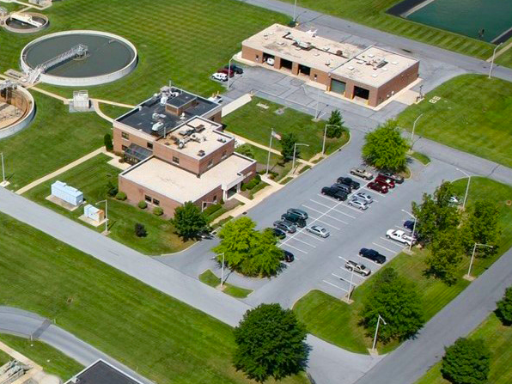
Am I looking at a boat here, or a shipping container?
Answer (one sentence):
Looking from above, you can make out a shipping container.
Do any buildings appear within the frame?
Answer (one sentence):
Yes, a building appears in the view.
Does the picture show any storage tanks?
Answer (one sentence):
Yes, the image includes a storage tank.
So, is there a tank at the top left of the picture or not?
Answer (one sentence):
Yes, a tank appears at the top left of the picture.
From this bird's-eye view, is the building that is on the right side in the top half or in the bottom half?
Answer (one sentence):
The building that is on the right side sits in the top half of the picture.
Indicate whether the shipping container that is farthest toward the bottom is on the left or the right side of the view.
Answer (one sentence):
You can find the shipping container that is farthest toward the bottom on the left side of the picture.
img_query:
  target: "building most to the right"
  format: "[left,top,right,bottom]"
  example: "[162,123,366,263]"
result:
[241,25,418,108]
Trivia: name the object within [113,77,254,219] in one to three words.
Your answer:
building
